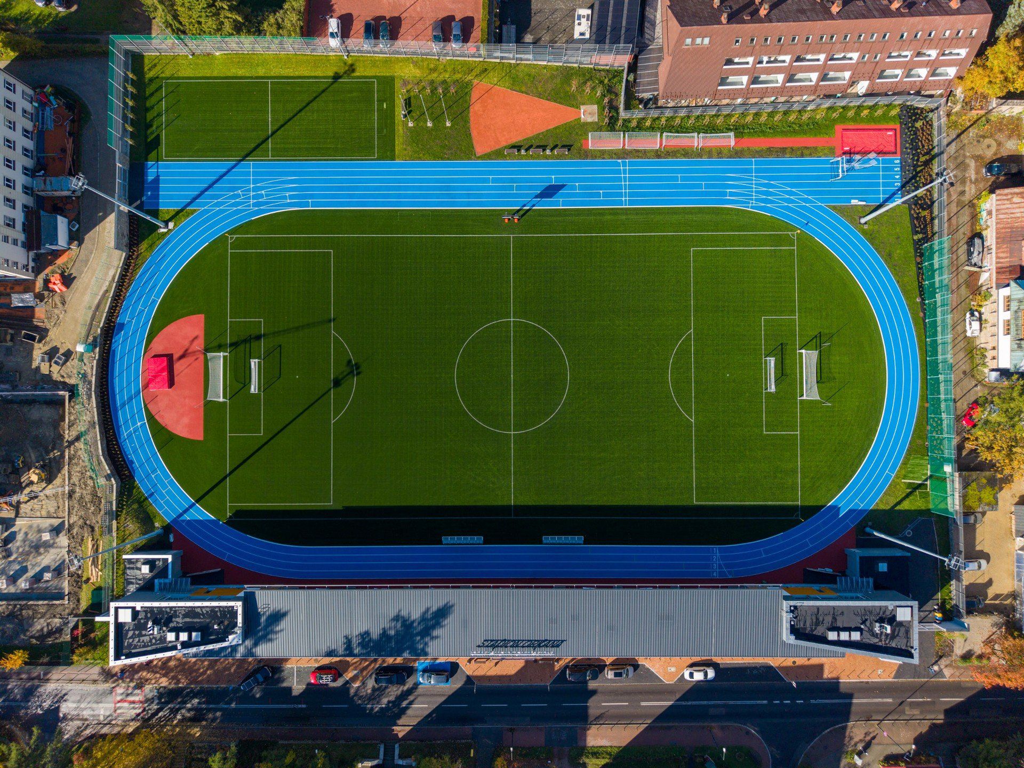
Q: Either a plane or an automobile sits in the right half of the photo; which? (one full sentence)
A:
There is an automobile in the right half of the photo.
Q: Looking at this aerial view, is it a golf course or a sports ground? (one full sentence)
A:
The picture captures a sports ground.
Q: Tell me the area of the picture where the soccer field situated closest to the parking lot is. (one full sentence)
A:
Look in the top left portion of the view to spot the soccer field situated closest to the parking lot.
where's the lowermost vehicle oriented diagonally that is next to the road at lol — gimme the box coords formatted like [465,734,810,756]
[241,665,271,690]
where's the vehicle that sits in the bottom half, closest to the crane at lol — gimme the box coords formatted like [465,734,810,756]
[11,461,53,488]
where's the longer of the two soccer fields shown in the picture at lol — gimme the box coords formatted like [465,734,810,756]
[141,206,887,546]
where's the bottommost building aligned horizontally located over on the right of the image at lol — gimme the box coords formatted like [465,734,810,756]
[761,571,918,663]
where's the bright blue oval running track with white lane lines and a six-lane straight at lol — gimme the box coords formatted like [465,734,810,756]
[109,157,920,579]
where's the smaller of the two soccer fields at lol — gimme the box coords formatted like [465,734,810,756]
[142,75,396,161]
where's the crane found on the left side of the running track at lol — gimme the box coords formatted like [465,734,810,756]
[0,486,70,527]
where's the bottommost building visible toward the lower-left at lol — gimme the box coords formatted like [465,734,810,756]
[110,573,268,665]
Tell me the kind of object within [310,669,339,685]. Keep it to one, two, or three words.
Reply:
car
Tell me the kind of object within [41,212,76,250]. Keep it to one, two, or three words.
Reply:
shed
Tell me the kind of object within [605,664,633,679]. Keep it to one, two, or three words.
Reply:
car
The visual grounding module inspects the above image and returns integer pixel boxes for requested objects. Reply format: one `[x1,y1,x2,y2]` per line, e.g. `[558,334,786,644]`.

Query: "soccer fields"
[141,206,887,546]
[142,75,396,161]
